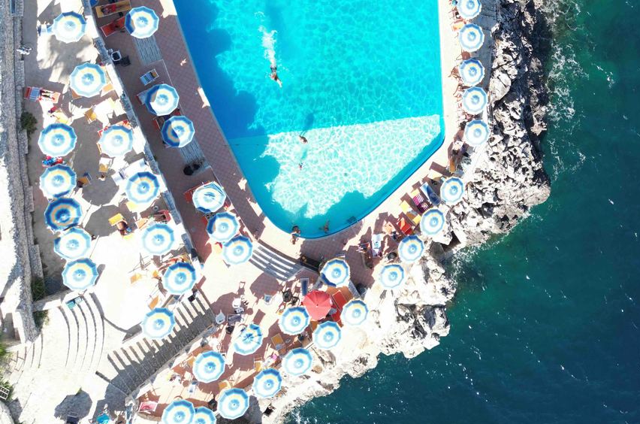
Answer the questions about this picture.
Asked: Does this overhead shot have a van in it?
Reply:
No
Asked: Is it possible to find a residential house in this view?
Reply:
No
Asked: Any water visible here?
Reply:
Yes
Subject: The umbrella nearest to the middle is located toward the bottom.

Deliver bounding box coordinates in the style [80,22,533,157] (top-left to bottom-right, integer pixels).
[319,256,346,285]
